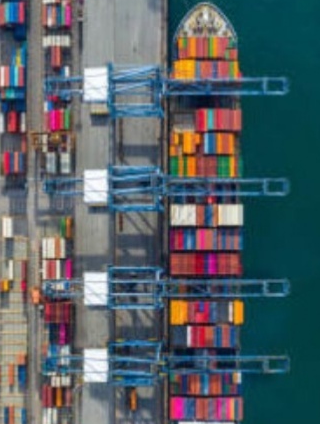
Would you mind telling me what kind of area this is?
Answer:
port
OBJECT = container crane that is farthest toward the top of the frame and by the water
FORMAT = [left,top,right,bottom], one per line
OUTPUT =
[44,62,289,125]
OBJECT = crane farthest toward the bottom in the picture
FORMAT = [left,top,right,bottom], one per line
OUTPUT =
[44,334,289,387]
